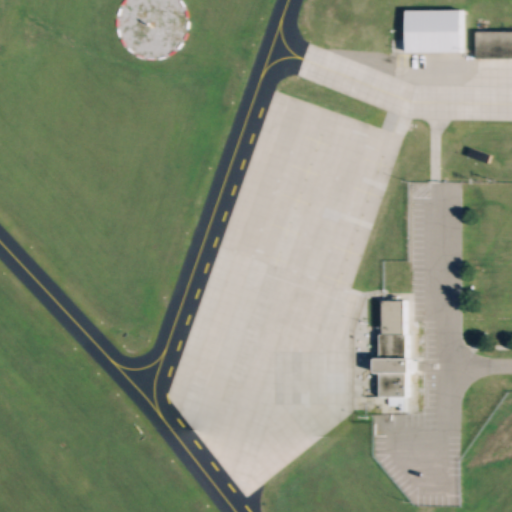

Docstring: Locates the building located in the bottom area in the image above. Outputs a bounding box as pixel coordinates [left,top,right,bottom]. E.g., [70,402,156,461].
[370,300,406,397]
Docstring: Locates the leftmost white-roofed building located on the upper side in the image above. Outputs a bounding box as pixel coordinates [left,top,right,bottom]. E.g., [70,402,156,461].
[404,10,466,53]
